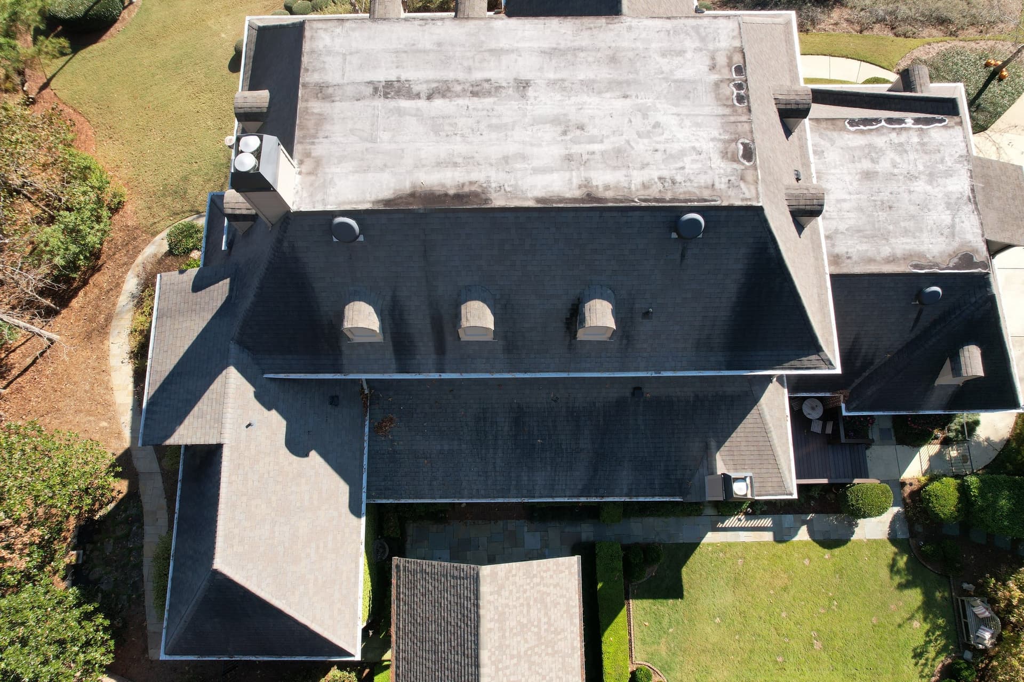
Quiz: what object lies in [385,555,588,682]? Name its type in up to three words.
shed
